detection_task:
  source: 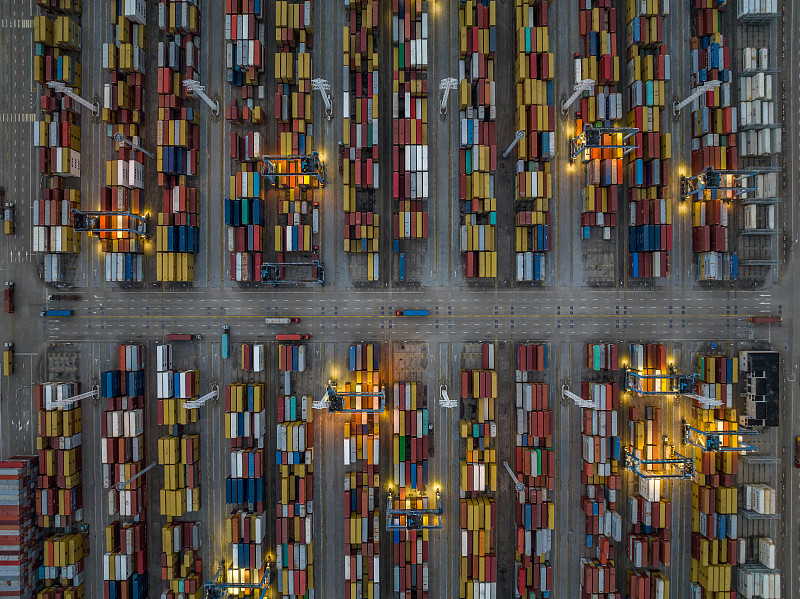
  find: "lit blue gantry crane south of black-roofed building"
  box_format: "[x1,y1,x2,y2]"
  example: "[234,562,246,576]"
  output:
[683,413,762,453]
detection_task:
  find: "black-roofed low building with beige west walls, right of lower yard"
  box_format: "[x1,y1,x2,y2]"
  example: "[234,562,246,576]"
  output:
[735,350,777,426]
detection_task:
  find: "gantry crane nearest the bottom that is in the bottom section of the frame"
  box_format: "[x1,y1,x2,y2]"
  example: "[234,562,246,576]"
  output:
[203,558,270,599]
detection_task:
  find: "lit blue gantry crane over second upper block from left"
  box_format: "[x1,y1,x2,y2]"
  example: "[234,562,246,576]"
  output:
[66,204,146,245]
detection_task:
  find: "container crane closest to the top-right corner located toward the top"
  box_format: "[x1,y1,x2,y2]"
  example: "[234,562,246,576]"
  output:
[683,162,762,205]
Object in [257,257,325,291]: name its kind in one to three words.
container crane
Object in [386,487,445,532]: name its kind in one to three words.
container crane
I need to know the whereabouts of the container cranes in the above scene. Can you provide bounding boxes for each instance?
[683,413,762,453]
[66,204,146,245]
[203,558,270,599]
[257,257,325,291]
[325,376,388,415]
[386,487,445,532]
[259,148,325,190]
[625,441,700,482]
[571,121,641,166]
[624,360,700,399]
[683,162,762,205]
